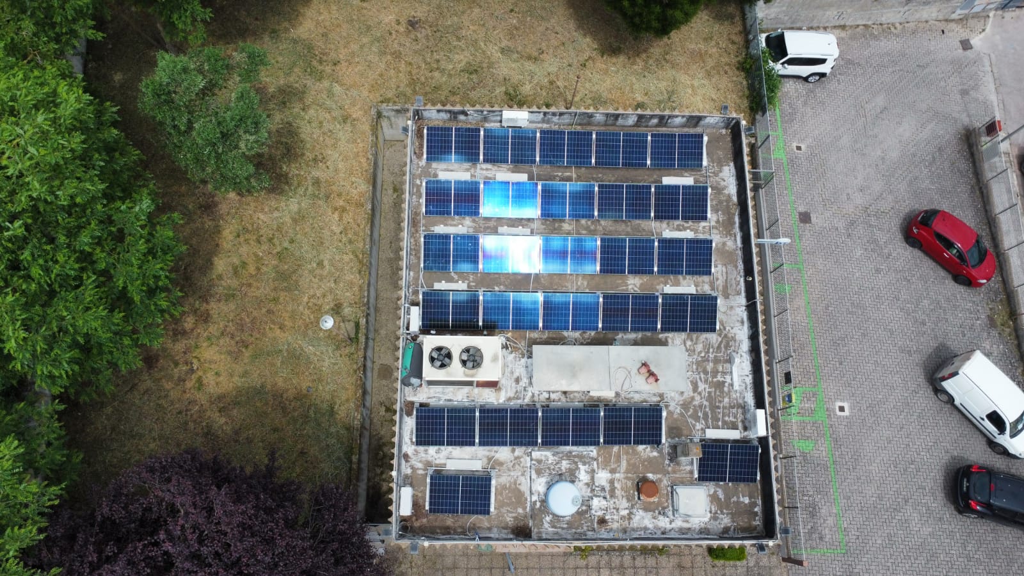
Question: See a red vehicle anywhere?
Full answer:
Yes, a red vehicle appears in the view.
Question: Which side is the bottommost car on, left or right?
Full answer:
The bottommost car is on the right side of the image.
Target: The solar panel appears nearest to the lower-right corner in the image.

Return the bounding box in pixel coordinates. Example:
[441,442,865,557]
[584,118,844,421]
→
[697,444,761,482]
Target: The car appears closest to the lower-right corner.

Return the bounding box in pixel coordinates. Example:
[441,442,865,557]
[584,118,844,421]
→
[954,467,1024,528]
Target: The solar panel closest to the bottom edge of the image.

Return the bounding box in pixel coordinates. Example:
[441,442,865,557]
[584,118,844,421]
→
[428,475,493,515]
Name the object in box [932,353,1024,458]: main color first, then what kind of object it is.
white van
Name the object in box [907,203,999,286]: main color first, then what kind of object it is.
red car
